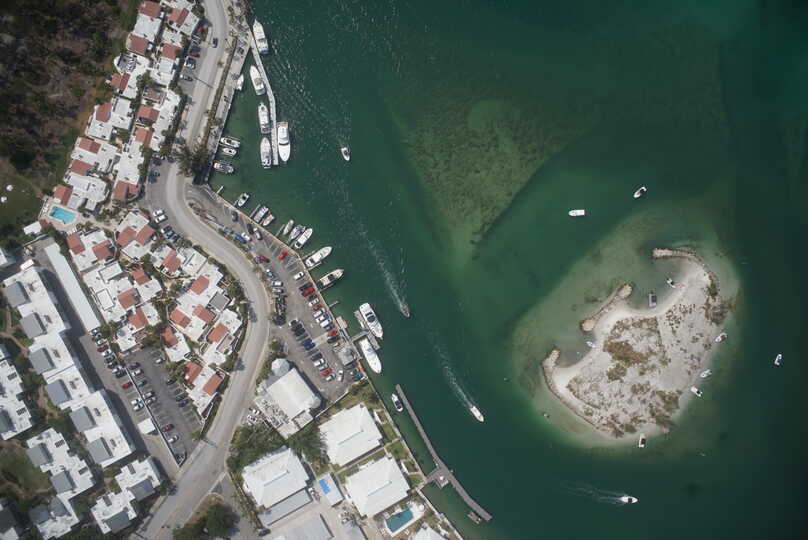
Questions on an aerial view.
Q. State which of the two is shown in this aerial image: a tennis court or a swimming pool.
swimming pool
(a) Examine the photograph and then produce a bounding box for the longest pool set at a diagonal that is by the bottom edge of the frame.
[383,501,425,536]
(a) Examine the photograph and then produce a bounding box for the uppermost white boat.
[255,20,269,56]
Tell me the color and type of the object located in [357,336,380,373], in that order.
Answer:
white boat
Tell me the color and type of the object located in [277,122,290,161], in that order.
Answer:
white boat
